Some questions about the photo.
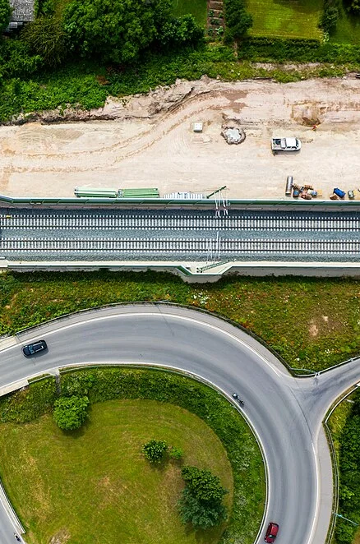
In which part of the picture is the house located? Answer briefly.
top left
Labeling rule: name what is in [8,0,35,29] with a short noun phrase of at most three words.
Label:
house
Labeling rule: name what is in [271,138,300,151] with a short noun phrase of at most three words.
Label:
vehicle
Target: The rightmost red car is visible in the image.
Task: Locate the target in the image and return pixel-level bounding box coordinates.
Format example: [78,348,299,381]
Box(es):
[264,520,280,543]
